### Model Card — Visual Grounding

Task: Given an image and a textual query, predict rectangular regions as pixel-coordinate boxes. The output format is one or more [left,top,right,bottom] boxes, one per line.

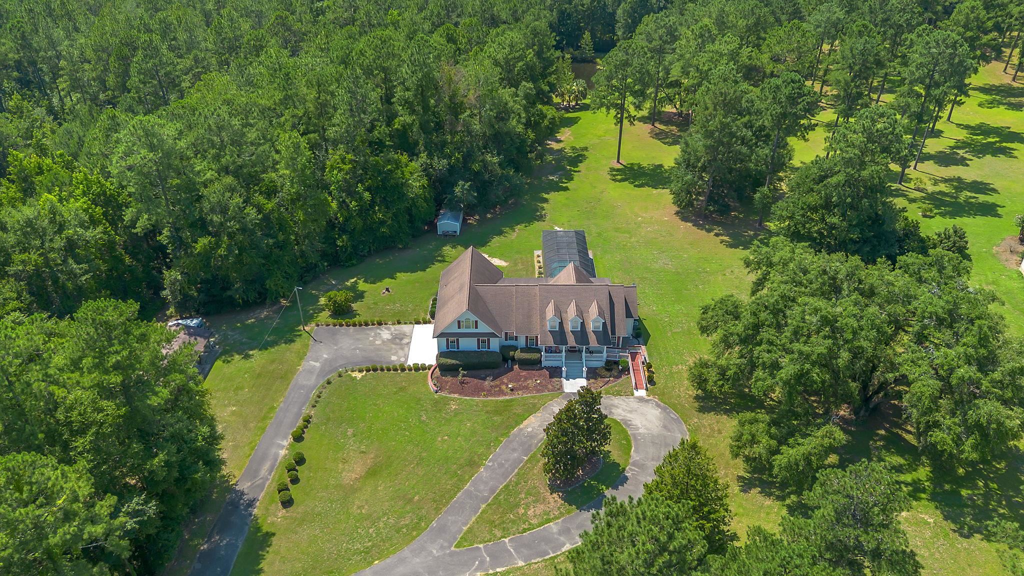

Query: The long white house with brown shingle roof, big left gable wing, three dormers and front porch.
[432,246,639,378]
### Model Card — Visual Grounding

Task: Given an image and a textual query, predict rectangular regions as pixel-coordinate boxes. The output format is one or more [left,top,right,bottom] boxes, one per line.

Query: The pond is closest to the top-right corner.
[557,51,634,96]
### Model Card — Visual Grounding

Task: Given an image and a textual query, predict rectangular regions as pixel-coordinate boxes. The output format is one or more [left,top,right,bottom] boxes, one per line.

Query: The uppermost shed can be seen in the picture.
[436,206,463,235]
